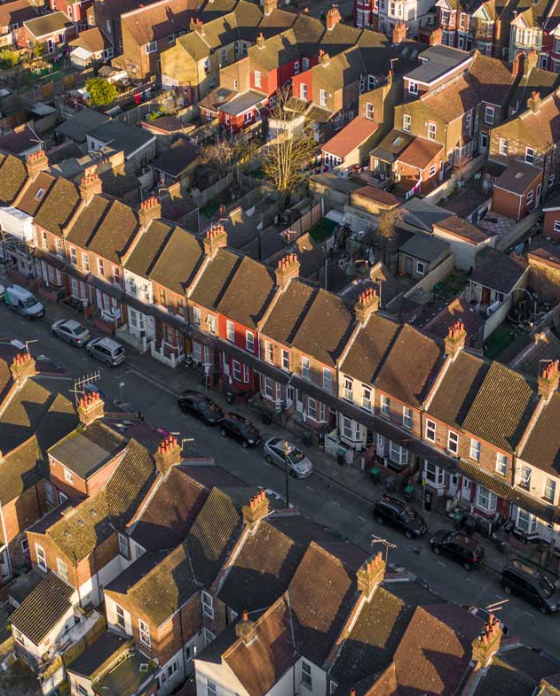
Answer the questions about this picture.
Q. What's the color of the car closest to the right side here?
black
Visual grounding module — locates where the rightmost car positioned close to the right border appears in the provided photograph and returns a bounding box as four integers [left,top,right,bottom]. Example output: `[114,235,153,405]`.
[492,557,560,613]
